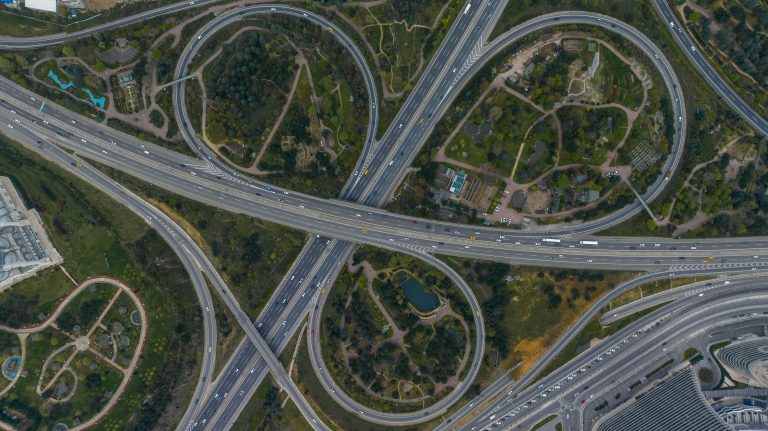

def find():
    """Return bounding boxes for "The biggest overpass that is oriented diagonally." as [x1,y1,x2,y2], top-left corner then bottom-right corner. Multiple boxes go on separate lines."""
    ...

[230,301,296,391]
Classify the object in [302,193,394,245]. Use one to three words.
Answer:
overpass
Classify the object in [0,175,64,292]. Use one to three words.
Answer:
building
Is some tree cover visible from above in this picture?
Yes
